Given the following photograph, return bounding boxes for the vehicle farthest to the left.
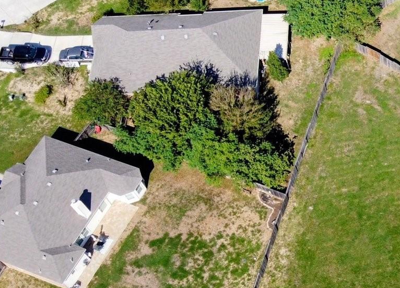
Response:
[0,44,50,66]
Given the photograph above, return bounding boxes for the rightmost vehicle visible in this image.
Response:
[57,44,89,65]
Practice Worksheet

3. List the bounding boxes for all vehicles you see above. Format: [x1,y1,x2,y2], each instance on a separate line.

[57,44,89,65]
[0,44,50,66]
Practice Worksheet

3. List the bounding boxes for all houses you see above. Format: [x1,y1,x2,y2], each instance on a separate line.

[0,136,147,288]
[85,9,290,104]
